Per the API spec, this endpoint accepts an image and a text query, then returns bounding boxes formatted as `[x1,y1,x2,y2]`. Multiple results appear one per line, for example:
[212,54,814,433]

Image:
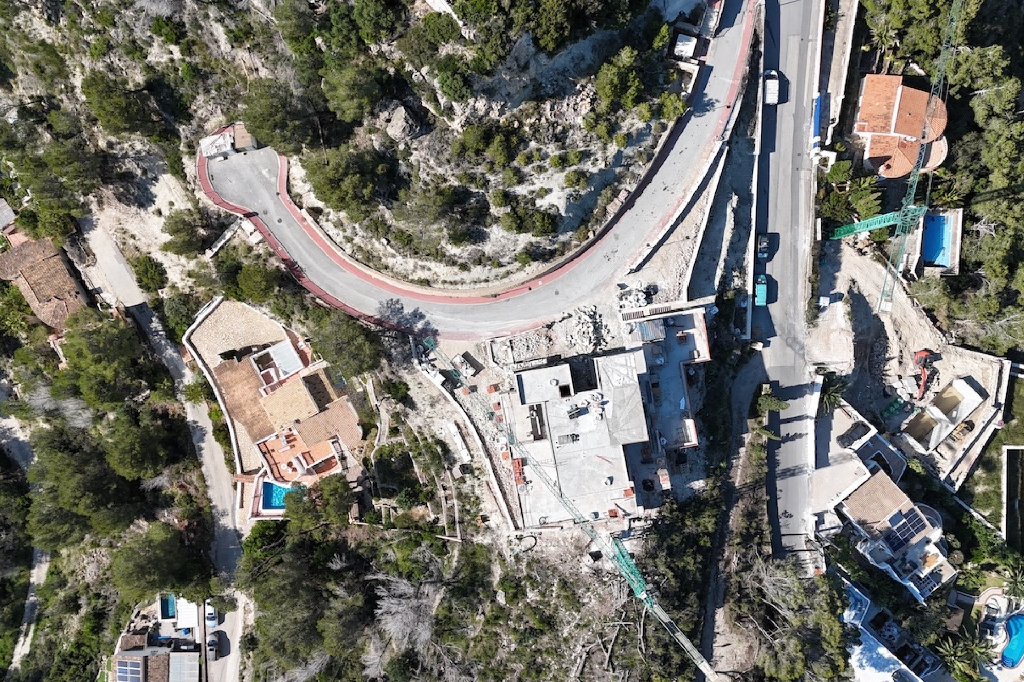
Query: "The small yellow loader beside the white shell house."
[949,421,973,442]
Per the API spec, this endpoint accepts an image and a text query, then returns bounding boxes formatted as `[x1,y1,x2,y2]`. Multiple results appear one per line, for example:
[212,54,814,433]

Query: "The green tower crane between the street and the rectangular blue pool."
[821,0,966,306]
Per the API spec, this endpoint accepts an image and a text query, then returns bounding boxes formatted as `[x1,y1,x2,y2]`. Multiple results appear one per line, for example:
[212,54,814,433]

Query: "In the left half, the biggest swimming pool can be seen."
[259,478,303,513]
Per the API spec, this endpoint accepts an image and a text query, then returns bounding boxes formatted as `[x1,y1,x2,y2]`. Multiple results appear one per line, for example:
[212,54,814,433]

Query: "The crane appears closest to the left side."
[422,338,721,682]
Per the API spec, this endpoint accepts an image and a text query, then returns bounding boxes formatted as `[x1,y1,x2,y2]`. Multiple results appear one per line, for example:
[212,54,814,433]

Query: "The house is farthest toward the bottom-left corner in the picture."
[108,628,202,682]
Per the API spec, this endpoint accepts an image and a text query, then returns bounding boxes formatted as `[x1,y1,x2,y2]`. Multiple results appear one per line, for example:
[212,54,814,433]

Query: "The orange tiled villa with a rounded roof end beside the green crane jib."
[847,74,948,181]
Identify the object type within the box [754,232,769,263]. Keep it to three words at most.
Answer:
vehicle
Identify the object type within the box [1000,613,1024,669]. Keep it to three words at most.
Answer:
swimming pool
